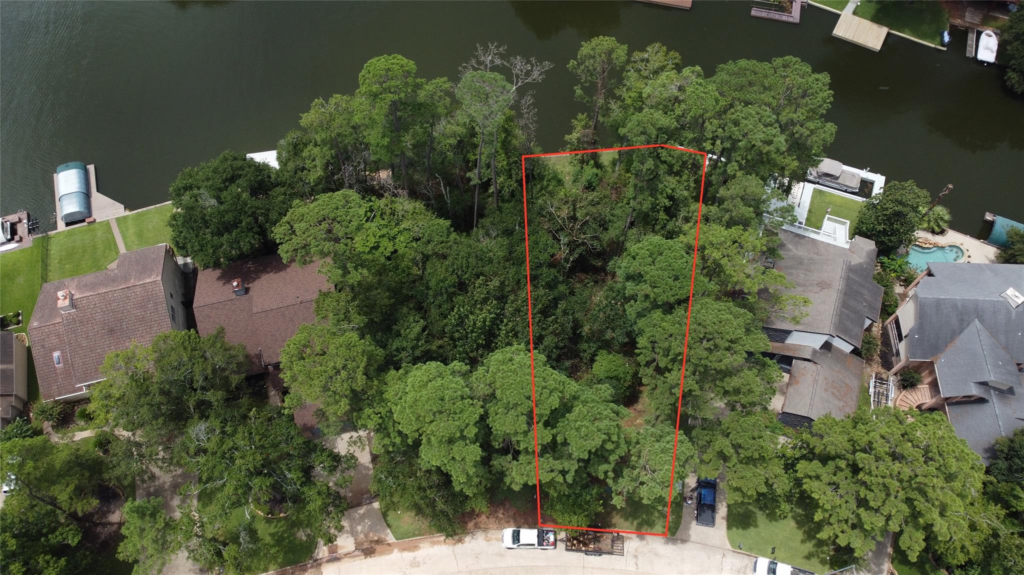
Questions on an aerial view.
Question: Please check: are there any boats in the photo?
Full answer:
Yes, the image includes a boat.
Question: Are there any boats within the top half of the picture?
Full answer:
Yes, a boat can be seen within the top half of the picture.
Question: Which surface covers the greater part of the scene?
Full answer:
The scene is dominated by trees.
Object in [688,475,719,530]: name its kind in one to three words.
truck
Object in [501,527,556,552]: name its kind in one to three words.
truck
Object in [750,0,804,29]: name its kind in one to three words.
pier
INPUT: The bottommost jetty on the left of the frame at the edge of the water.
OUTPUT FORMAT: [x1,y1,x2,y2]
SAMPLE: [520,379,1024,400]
[0,210,33,255]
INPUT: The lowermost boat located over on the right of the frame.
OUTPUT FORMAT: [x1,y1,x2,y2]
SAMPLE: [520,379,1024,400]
[807,155,862,193]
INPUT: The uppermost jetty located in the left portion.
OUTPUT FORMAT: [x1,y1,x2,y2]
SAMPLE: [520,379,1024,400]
[54,164,127,230]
